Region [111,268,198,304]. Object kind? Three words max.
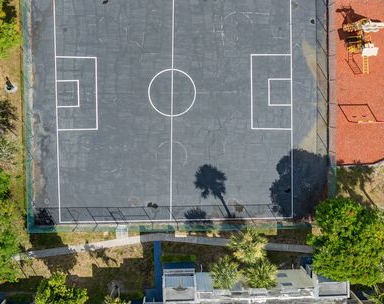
house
